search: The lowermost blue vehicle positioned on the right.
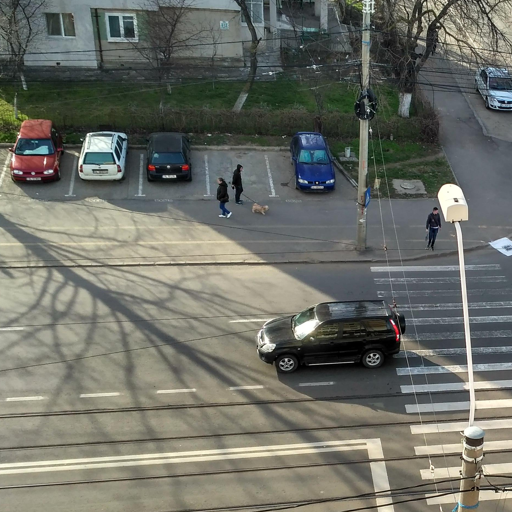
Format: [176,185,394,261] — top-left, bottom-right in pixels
[290,129,338,184]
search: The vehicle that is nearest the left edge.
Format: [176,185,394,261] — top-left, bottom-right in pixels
[8,120,70,178]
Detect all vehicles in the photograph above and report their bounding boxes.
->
[254,295,408,371]
[476,68,512,108]
[290,129,338,184]
[145,131,195,178]
[8,120,70,178]
[77,126,132,177]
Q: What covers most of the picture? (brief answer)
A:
paved ground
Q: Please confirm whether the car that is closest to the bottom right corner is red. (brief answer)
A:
No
